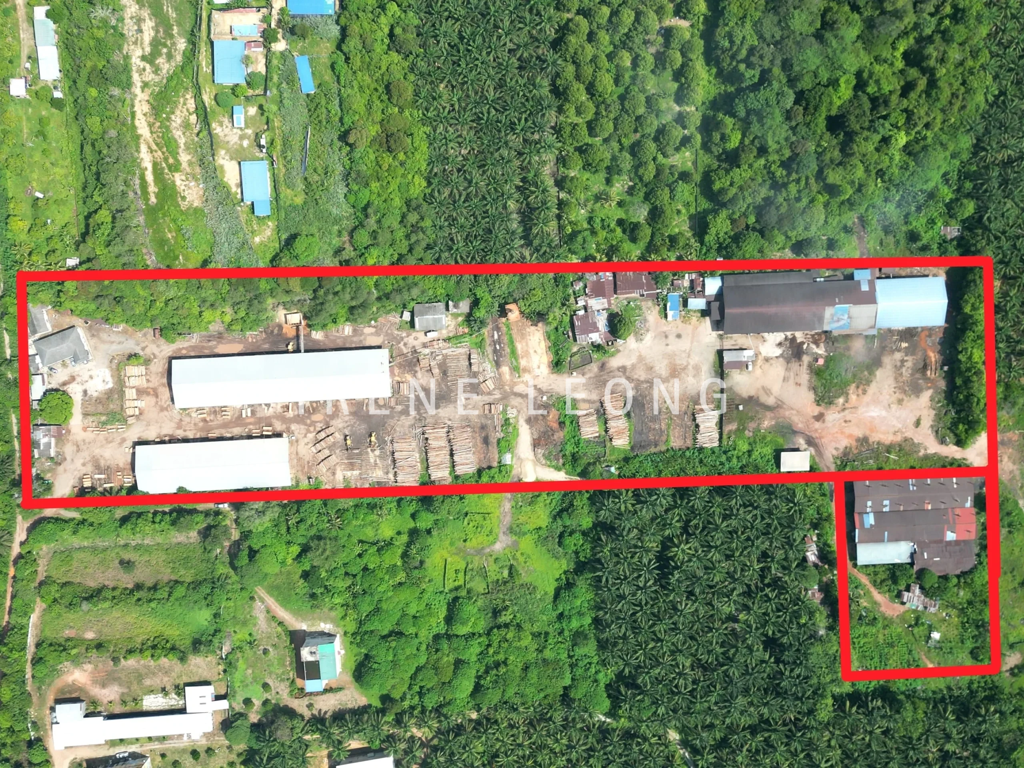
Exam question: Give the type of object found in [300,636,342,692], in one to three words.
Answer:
house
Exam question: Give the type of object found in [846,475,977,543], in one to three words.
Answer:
building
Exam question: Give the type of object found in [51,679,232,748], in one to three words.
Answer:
building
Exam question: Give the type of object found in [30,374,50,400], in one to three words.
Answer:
shed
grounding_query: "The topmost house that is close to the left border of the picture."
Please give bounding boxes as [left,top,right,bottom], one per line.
[34,5,65,83]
